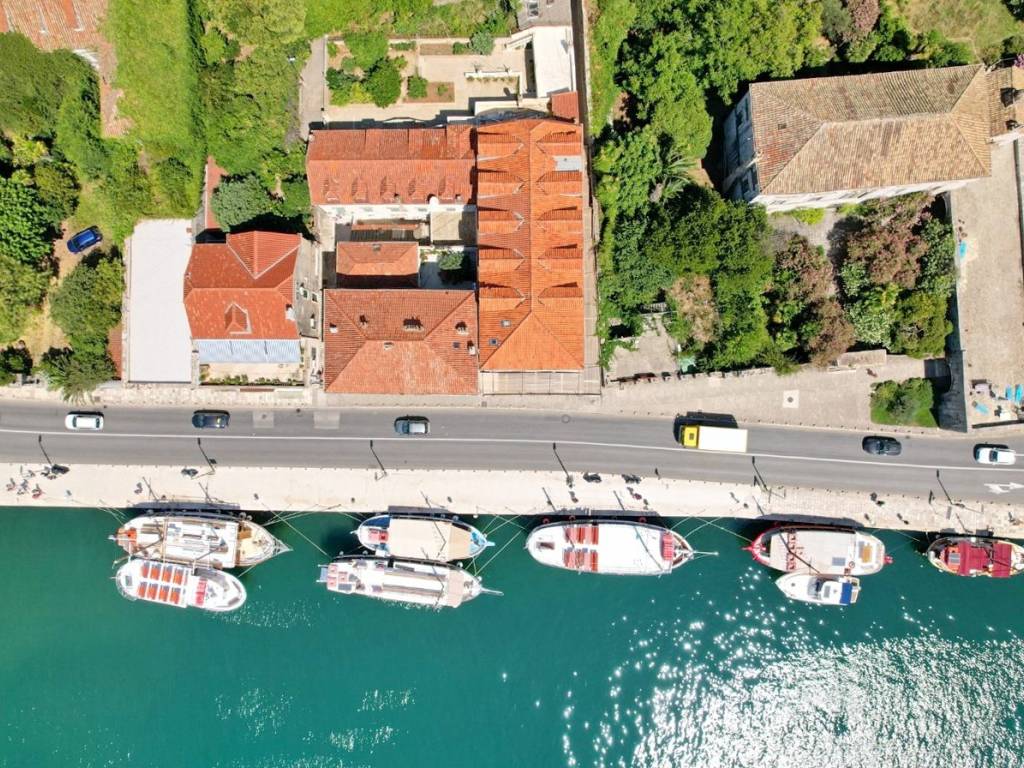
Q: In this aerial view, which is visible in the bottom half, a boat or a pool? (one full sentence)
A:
There is a boat in the bottom half.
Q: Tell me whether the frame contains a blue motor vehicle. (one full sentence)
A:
Yes, looking at the shot, I can spot a blue motor vehicle.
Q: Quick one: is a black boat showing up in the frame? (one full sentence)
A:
No, the frame has no black boat in it.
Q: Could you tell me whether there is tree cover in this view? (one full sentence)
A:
Yes, the picture does contain tree cover.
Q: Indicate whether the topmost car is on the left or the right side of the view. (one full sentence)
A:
You can find the topmost car on the left side of the picture.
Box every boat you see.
[478,508,722,575]
[701,517,954,580]
[921,530,1024,577]
[774,572,862,606]
[339,508,568,561]
[110,558,249,609]
[289,512,523,607]
[101,504,342,573]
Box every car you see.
[859,436,900,455]
[971,445,1014,465]
[68,228,106,253]
[395,417,430,436]
[69,411,108,431]
[194,410,232,429]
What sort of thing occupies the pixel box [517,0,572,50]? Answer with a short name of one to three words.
building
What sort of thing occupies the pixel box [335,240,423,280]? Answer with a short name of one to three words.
house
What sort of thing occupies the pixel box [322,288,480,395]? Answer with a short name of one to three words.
house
